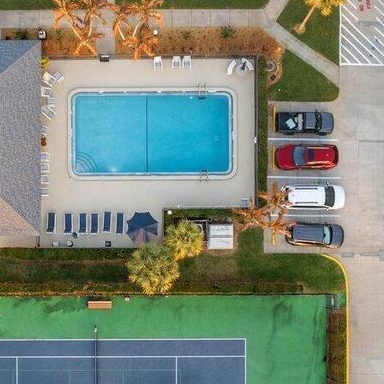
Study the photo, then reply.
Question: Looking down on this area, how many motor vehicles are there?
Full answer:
In total, there are 4 motor vehicles in the scene.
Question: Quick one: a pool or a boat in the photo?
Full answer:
There is a pool in the scene.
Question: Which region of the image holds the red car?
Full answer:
The red car is in the right part of the image.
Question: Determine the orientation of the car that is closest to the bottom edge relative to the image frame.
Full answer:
The car that is closest to the bottom edge is oriented horizontally.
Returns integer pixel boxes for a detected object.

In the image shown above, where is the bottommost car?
[285,220,343,249]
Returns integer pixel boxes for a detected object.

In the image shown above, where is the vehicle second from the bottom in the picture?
[282,181,345,211]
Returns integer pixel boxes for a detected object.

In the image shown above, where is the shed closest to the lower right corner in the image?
[209,224,235,249]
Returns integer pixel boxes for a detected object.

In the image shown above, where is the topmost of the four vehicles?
[275,106,335,134]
